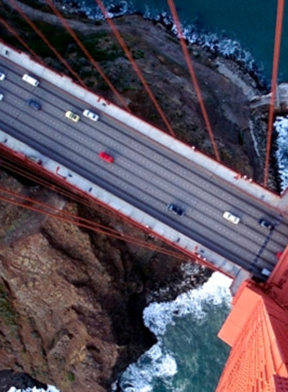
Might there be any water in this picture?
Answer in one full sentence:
Yes, there is water in the image.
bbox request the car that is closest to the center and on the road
[168,203,186,217]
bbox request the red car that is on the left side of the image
[99,150,117,164]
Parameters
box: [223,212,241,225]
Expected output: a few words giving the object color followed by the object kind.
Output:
white vehicle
